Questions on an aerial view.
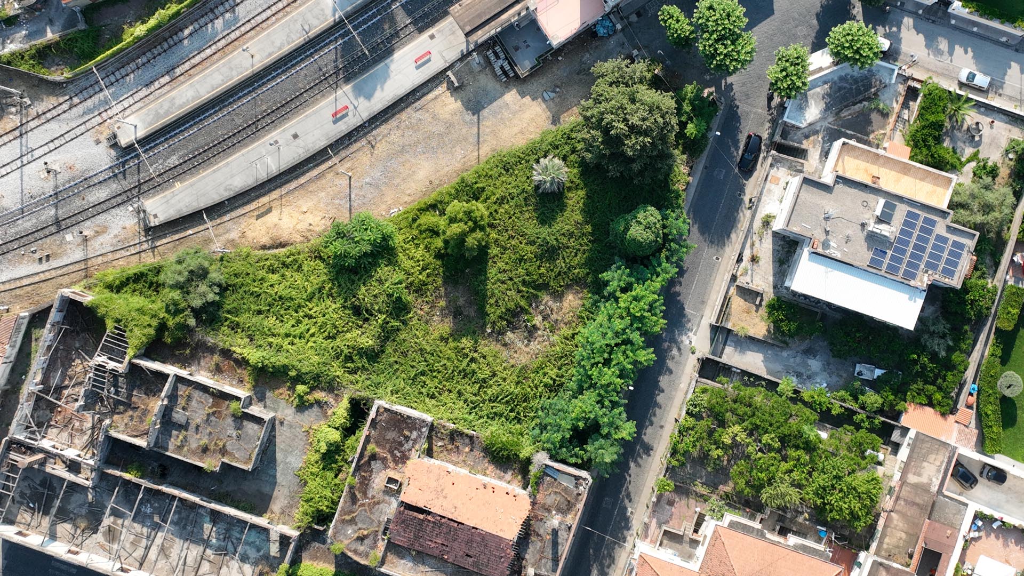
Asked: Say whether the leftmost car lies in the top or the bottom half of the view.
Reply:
top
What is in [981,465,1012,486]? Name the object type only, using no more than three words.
car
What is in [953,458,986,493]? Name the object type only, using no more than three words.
car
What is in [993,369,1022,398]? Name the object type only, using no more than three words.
umbrella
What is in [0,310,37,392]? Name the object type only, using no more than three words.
shed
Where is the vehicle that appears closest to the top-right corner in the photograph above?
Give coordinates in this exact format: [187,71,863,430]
[958,67,994,89]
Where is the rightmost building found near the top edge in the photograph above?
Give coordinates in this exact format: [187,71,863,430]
[526,0,612,56]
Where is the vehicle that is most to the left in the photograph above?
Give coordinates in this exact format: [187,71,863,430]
[741,133,764,172]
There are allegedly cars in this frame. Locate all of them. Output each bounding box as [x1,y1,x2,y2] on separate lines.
[958,67,994,89]
[741,133,764,172]
[981,465,1012,486]
[880,36,894,54]
[953,458,986,493]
